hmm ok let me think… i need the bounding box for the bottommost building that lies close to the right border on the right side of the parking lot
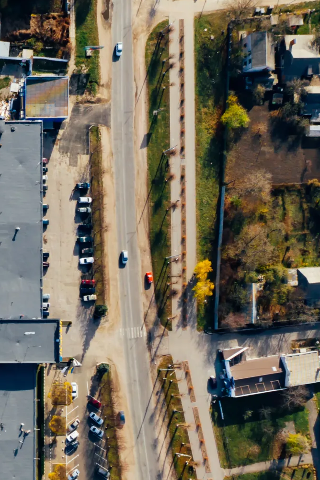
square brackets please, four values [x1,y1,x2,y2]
[223,352,320,398]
